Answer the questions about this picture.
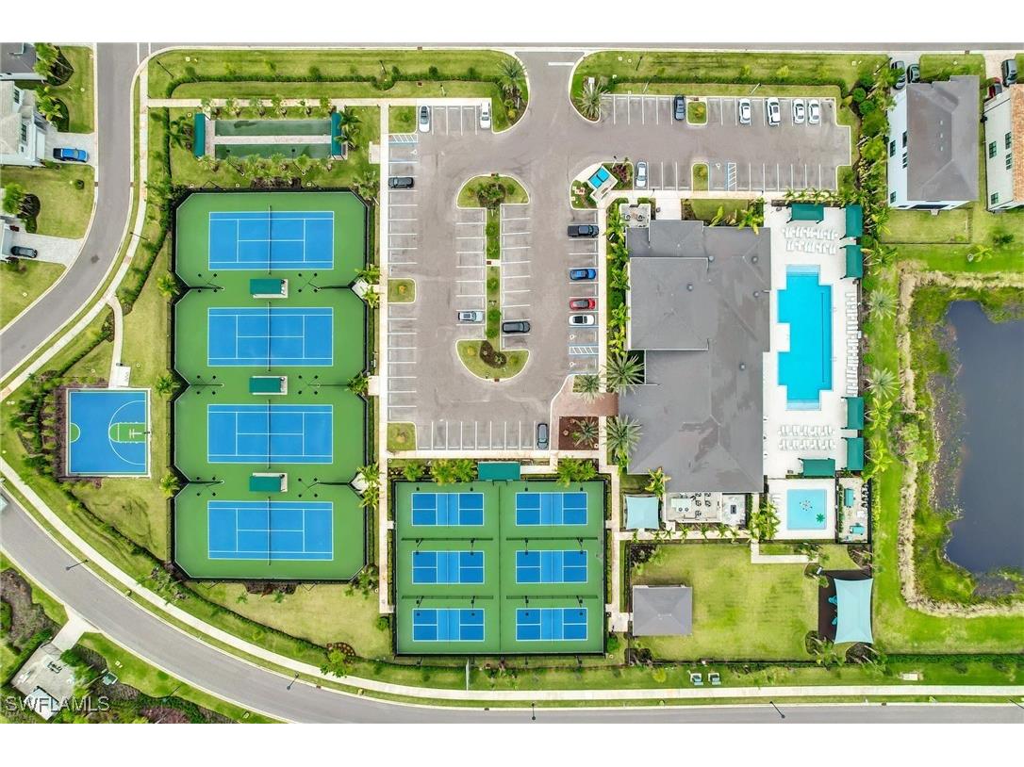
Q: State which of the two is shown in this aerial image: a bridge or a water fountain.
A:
water fountain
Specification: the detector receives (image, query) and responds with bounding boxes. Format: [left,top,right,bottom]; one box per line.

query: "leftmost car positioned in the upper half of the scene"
[11,246,40,258]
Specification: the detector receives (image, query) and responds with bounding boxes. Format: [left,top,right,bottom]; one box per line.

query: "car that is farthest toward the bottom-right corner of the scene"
[536,423,549,448]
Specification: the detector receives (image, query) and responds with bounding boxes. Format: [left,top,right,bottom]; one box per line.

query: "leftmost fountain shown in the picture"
[587,169,616,198]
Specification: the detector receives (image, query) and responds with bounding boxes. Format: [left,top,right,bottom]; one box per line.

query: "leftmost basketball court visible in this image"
[66,388,151,477]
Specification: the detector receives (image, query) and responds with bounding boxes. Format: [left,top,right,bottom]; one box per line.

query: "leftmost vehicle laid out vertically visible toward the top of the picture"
[417,105,430,132]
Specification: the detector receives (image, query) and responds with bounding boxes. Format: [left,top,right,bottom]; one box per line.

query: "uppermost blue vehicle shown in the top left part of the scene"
[53,148,89,163]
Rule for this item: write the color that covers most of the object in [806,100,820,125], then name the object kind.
white car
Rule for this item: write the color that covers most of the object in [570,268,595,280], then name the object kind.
blue vehicle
